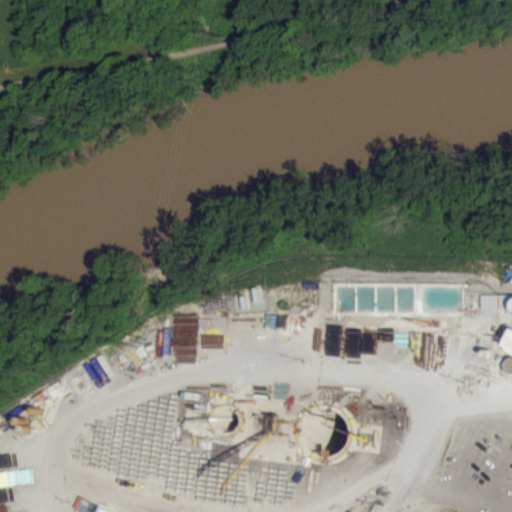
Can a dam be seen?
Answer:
No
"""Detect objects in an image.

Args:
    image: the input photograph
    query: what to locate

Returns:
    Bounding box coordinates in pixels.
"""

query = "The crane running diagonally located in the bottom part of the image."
[218,412,293,500]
